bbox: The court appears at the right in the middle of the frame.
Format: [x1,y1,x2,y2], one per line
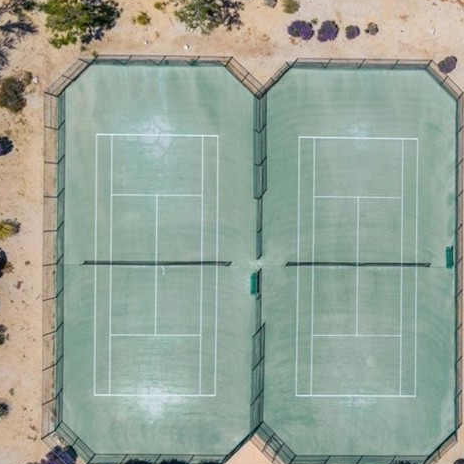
[256,63,456,464]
